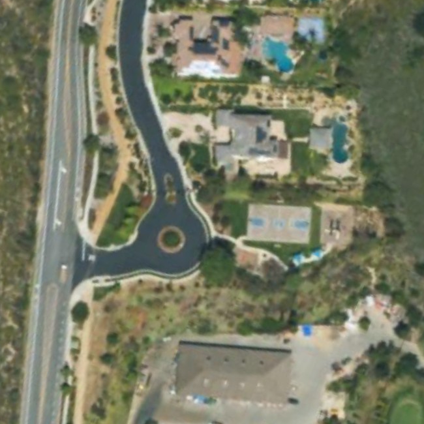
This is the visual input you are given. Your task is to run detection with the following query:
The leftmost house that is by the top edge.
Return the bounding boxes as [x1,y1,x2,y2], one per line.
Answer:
[170,10,244,77]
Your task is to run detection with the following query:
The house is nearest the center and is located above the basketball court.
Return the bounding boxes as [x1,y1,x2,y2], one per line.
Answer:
[216,109,288,164]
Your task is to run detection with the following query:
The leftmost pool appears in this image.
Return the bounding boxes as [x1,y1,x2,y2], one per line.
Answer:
[263,37,295,73]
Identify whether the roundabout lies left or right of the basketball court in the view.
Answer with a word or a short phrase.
on its left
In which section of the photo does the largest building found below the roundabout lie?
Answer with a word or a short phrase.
bottom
